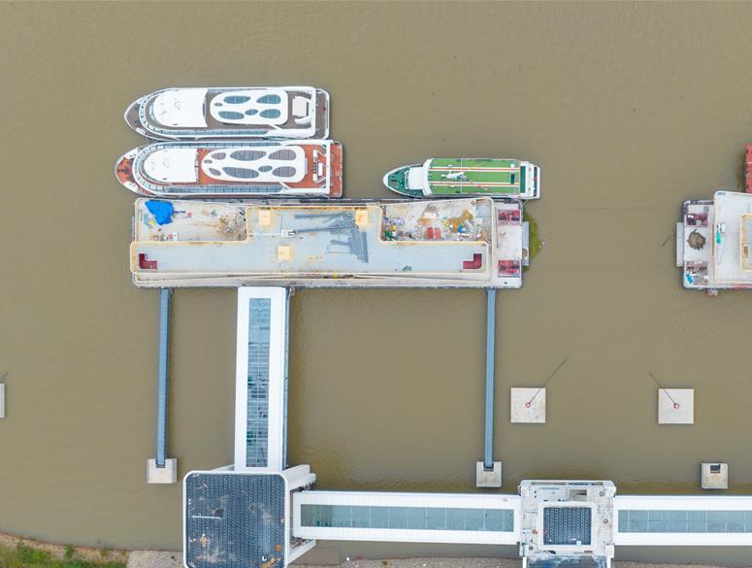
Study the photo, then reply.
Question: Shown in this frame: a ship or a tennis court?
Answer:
ship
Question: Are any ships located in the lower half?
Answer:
No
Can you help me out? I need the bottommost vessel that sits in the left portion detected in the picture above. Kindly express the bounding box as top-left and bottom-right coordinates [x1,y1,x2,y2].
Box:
[113,139,345,199]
